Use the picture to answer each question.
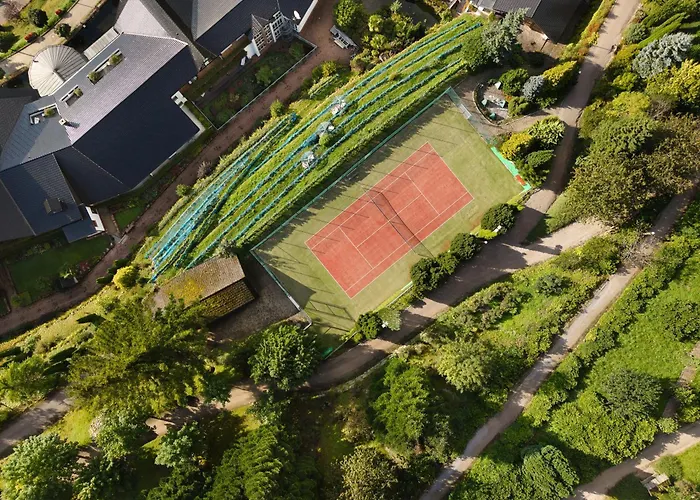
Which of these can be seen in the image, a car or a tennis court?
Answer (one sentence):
Visible in the photo is a tennis court.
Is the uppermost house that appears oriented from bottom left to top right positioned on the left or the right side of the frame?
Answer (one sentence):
The uppermost house that appears oriented from bottom left to top right is on the left side of the image.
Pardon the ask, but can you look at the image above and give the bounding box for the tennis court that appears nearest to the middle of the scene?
[255,95,524,350]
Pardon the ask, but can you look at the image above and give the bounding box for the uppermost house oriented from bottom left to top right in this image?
[0,0,327,256]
